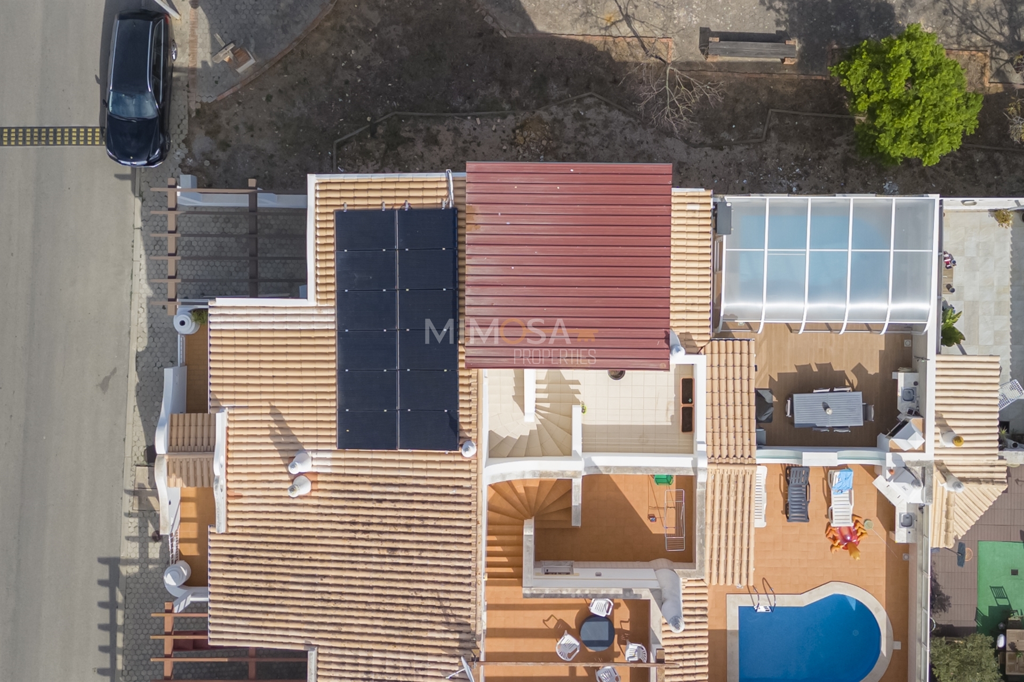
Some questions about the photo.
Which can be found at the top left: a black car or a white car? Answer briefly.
black car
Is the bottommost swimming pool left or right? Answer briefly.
right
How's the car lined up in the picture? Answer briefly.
up and down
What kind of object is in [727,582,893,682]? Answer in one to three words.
swimming pool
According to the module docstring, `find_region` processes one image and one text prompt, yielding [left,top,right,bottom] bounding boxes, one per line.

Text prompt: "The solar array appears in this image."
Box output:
[336,203,458,453]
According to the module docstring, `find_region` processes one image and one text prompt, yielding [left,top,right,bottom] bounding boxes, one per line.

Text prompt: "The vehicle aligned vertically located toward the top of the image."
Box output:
[96,9,174,168]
